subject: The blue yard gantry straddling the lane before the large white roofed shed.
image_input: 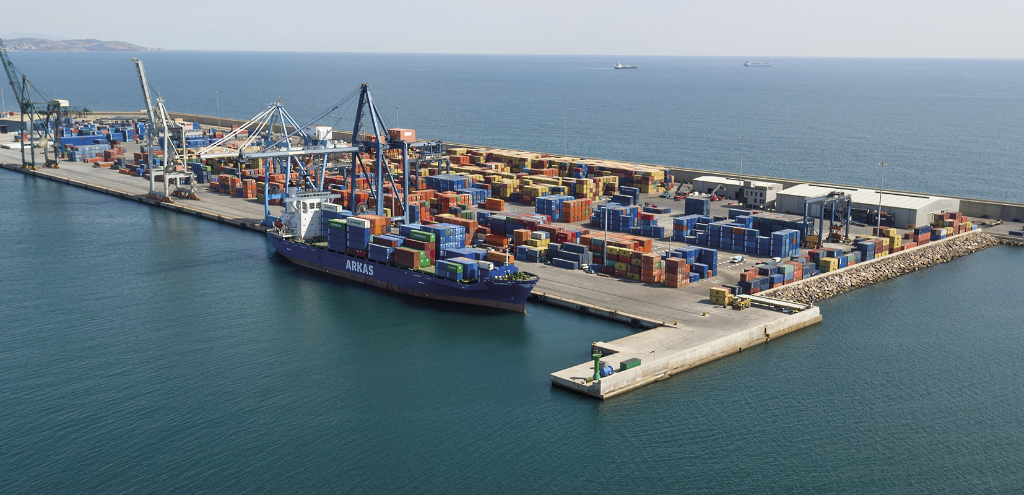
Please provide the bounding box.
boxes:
[802,191,855,247]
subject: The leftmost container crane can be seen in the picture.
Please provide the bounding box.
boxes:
[0,39,93,170]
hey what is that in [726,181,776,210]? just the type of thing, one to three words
building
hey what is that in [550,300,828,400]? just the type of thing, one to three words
pier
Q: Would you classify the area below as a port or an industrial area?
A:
port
